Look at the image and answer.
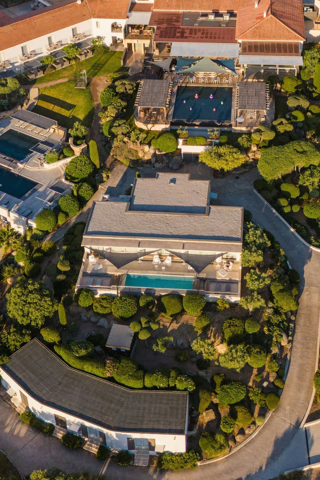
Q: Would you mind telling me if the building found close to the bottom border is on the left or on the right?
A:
left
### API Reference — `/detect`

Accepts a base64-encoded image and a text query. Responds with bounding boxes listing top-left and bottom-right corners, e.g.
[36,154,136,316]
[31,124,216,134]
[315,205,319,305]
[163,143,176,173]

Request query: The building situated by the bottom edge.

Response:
[0,337,189,457]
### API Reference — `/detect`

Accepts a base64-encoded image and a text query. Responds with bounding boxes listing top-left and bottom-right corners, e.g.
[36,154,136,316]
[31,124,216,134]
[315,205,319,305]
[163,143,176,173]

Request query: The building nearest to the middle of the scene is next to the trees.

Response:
[75,172,244,305]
